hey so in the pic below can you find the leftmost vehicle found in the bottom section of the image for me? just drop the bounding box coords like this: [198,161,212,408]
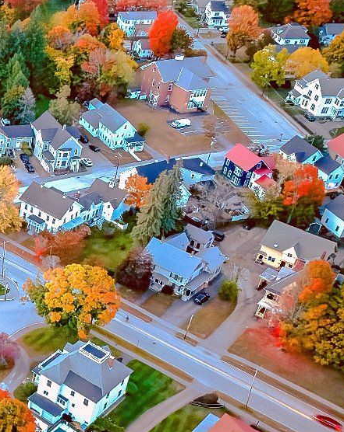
[193,290,212,304]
